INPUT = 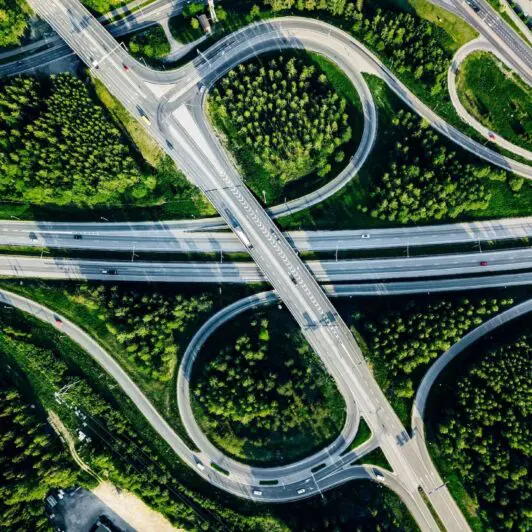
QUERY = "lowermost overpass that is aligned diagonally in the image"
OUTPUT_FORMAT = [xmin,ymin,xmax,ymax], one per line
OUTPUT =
[205,176,338,328]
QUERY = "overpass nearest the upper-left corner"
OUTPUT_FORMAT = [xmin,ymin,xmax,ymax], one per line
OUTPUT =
[39,0,120,63]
